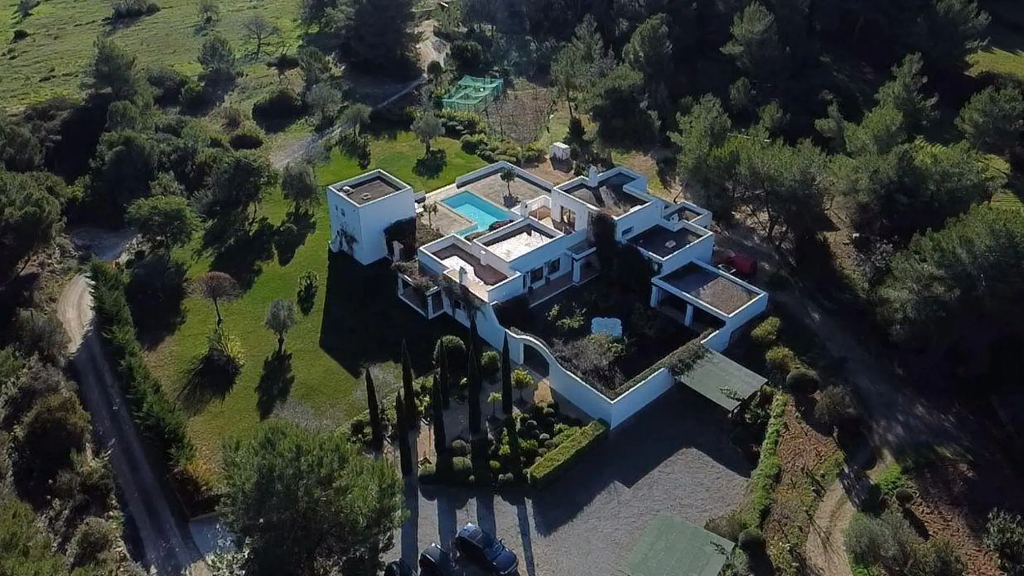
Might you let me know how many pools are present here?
1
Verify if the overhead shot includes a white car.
No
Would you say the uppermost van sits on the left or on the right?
right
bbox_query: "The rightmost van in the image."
[718,245,753,280]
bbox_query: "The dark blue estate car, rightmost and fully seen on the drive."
[450,517,524,576]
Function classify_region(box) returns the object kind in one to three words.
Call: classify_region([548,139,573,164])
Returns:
shed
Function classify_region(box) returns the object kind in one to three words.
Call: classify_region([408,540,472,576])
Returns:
car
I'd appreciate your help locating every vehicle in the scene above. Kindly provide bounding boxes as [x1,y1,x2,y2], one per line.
[718,245,753,280]
[362,553,409,576]
[450,517,524,576]
[408,540,472,576]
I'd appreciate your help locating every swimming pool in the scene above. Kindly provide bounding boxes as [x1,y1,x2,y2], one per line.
[438,189,510,244]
